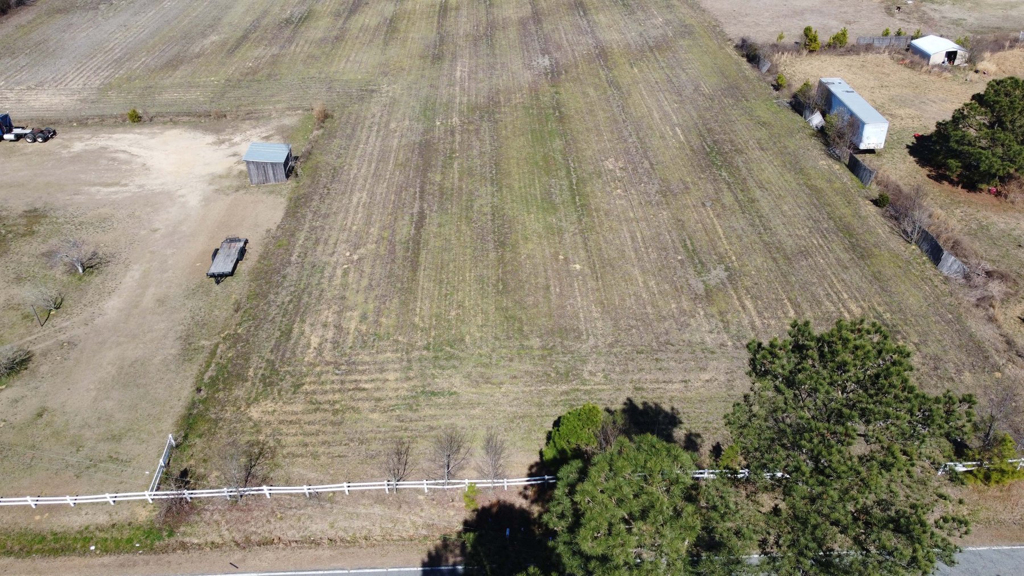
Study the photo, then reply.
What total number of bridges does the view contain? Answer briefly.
none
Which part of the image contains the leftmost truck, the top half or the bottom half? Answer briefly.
top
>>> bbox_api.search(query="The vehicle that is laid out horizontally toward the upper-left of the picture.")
[0,106,64,142]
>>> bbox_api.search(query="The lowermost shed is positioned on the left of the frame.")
[240,145,291,185]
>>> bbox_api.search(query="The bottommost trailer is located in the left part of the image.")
[205,235,246,288]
